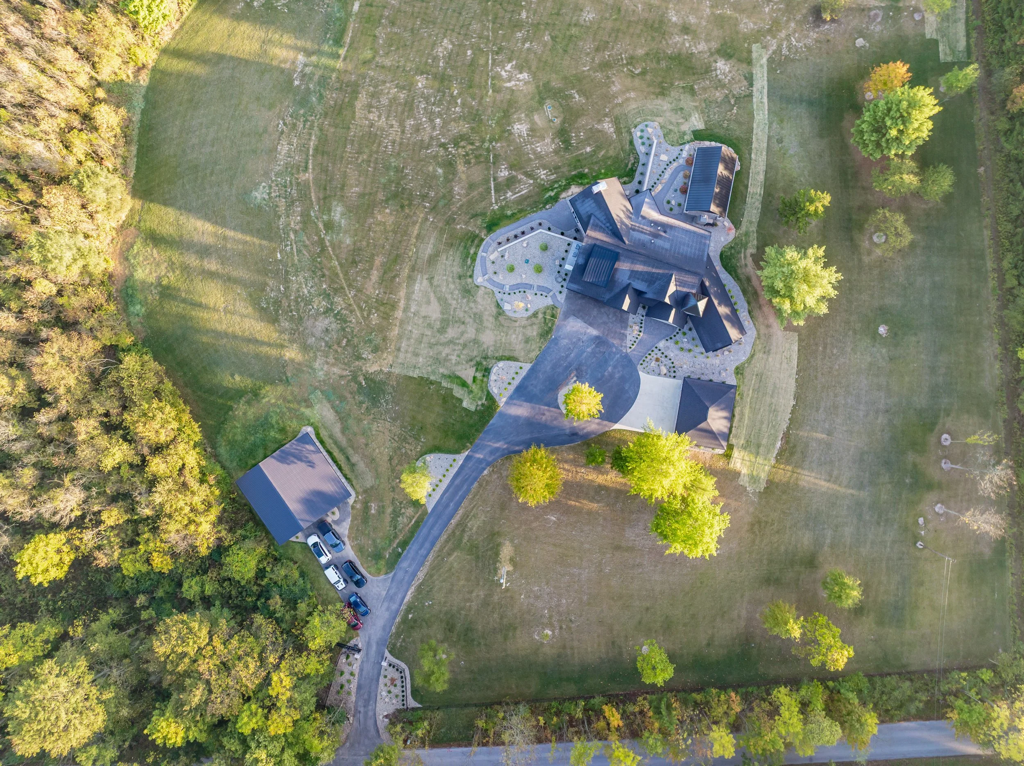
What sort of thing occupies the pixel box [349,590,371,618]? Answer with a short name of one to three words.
car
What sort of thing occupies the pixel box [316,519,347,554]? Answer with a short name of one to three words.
truck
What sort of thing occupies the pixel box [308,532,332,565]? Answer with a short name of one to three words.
car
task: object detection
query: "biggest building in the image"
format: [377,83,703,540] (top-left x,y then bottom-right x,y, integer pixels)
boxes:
[565,176,747,353]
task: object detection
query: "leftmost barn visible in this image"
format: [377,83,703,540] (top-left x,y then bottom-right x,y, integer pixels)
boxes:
[235,433,353,546]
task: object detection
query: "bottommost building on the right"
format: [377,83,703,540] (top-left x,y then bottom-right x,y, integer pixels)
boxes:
[675,377,737,450]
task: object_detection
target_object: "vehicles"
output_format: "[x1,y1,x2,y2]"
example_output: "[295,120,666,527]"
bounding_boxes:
[325,564,348,592]
[342,600,364,631]
[342,558,368,590]
[308,532,332,565]
[316,519,347,554]
[349,590,371,618]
